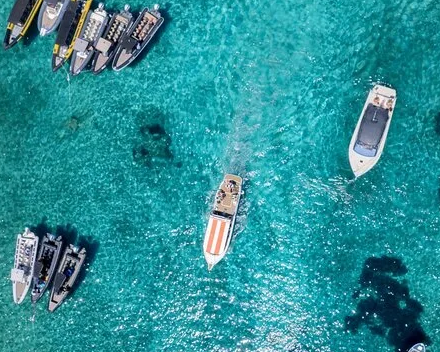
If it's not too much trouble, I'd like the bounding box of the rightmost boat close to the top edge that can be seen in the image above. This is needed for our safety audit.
[113,7,163,69]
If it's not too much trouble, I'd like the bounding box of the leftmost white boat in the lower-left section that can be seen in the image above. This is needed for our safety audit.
[11,228,40,303]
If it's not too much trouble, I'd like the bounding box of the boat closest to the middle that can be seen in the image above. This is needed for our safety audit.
[204,172,243,271]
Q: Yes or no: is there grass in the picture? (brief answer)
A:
No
